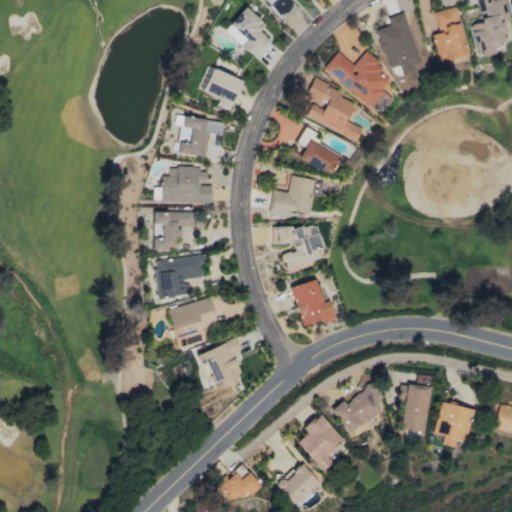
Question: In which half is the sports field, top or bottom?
top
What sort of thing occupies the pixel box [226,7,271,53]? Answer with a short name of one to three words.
house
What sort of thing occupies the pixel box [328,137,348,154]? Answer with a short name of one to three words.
swimming pool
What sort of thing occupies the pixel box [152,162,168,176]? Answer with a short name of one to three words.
swimming pool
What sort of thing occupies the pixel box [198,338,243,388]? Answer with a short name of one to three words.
house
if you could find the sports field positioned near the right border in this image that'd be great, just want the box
[404,109,512,220]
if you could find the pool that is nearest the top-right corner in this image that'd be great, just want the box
[352,113,374,132]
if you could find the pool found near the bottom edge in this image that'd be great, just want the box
[302,492,322,508]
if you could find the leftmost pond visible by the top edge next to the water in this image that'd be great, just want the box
[96,8,188,144]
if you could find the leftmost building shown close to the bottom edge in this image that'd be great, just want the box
[218,464,263,500]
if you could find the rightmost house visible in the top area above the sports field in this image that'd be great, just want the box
[472,0,511,57]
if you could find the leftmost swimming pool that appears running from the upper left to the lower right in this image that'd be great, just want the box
[214,34,236,52]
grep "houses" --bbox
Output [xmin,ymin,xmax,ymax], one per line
[293,280,338,327]
[278,464,321,507]
[270,175,316,217]
[334,384,384,436]
[326,50,393,112]
[156,254,206,298]
[400,374,433,438]
[154,212,194,252]
[200,66,244,104]
[498,404,512,436]
[218,464,263,500]
[174,114,224,156]
[378,10,422,76]
[274,226,324,258]
[306,80,364,143]
[270,0,298,16]
[472,0,511,57]
[298,126,344,174]
[226,7,271,53]
[300,415,345,470]
[198,338,243,388]
[433,6,470,62]
[436,403,476,448]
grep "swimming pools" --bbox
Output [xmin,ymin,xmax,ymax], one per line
[302,492,322,508]
[328,137,348,154]
[352,113,374,132]
[155,320,166,339]
[214,34,236,52]
[152,162,168,176]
